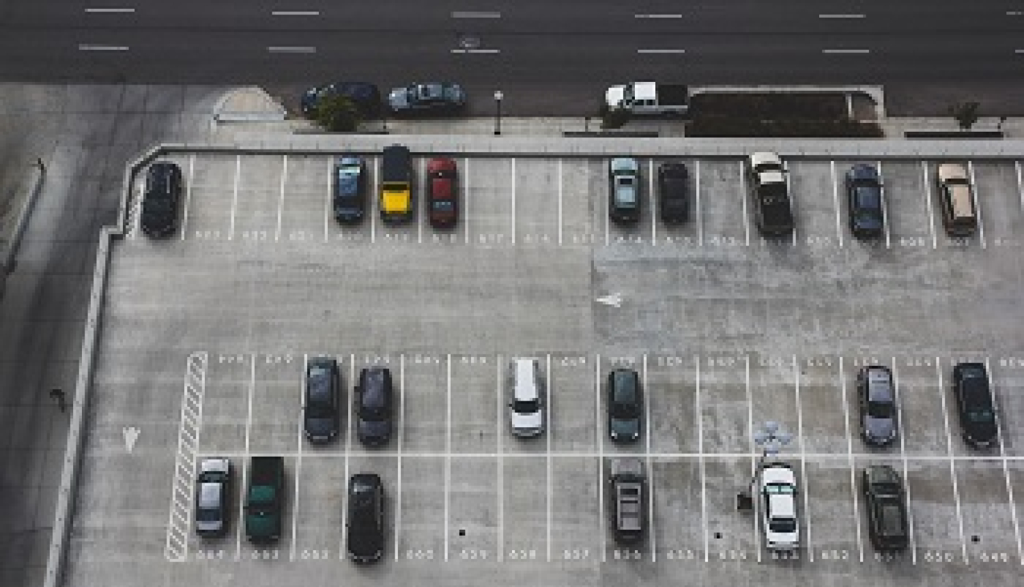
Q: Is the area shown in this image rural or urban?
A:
urban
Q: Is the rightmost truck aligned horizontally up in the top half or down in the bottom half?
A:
top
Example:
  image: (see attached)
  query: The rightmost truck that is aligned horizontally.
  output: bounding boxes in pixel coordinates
[605,79,690,117]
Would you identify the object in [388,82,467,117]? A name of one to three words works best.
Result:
car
